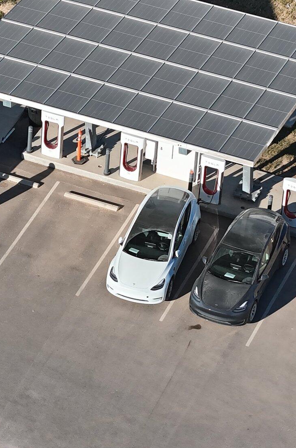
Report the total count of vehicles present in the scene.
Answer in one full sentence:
The picture shows 2 vehicles.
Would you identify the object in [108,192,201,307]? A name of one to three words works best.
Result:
car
